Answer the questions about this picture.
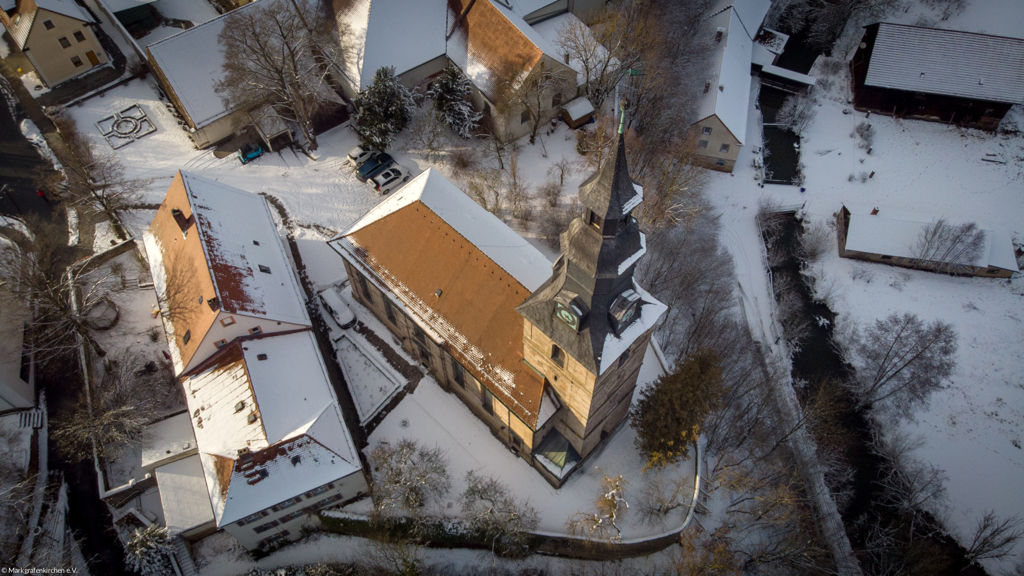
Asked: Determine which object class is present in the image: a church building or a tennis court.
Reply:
church building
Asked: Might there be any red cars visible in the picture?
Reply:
No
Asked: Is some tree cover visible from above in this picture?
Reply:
Yes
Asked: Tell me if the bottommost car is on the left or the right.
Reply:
left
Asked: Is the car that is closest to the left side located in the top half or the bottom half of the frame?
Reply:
top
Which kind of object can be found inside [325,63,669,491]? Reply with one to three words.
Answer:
church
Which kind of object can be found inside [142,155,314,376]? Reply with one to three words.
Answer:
house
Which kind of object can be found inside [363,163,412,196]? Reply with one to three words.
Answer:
car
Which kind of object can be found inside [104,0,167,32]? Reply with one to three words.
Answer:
shed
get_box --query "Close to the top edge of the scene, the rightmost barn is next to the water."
[853,19,1024,129]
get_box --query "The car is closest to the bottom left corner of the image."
[319,285,359,329]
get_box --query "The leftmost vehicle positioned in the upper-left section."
[230,139,268,165]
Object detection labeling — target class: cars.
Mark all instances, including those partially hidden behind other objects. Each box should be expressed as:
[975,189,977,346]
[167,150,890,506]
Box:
[341,143,377,168]
[319,285,359,329]
[350,154,395,187]
[363,163,412,196]
[230,139,268,165]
